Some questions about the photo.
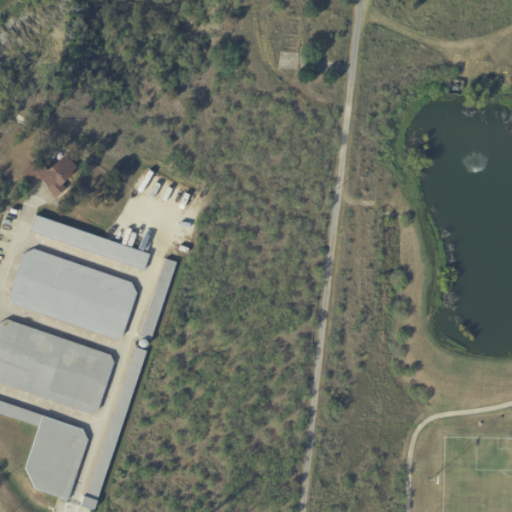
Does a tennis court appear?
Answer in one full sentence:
No, I can see no tennis court in this picture.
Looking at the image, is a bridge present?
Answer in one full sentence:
No, I can see no bridge in this picture.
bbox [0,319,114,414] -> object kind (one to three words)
building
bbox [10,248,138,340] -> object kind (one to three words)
building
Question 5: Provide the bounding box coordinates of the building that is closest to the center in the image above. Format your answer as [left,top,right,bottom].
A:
[140,258,176,337]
